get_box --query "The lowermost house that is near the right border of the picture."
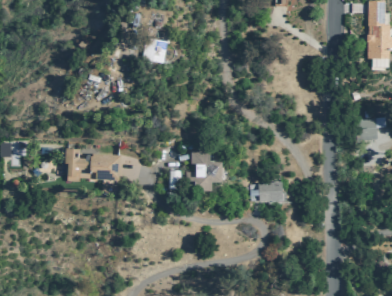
[360,118,386,141]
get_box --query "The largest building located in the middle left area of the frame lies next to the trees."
[66,148,119,182]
